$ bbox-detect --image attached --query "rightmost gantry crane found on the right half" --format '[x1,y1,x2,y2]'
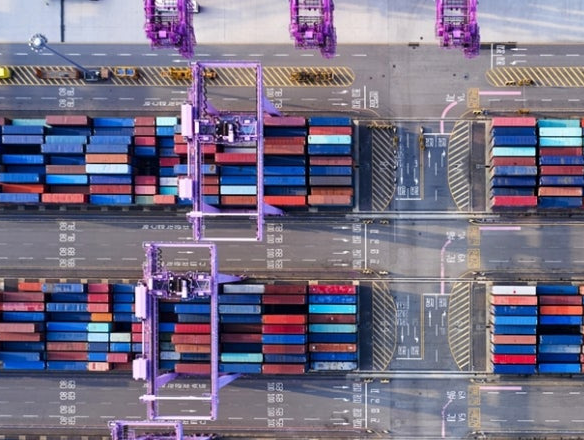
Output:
[433,0,481,62]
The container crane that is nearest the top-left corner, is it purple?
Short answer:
Yes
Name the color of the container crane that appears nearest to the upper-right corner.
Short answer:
purple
